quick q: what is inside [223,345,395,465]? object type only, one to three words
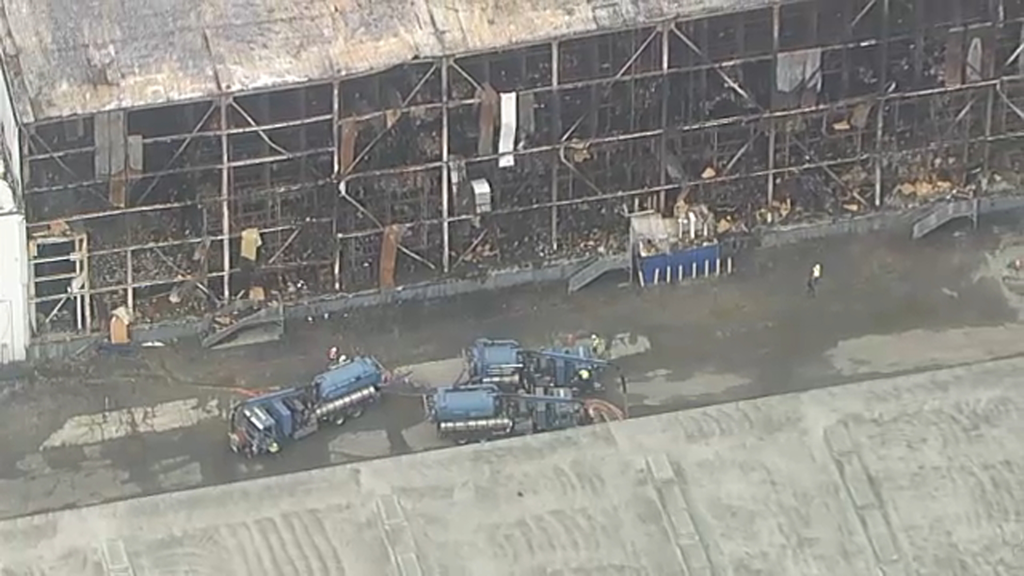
truck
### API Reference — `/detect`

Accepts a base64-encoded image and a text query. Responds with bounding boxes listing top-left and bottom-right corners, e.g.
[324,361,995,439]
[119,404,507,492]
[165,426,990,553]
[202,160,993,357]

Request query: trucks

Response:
[424,378,590,446]
[223,345,395,465]
[465,331,619,404]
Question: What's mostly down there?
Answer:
buildings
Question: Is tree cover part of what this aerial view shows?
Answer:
No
